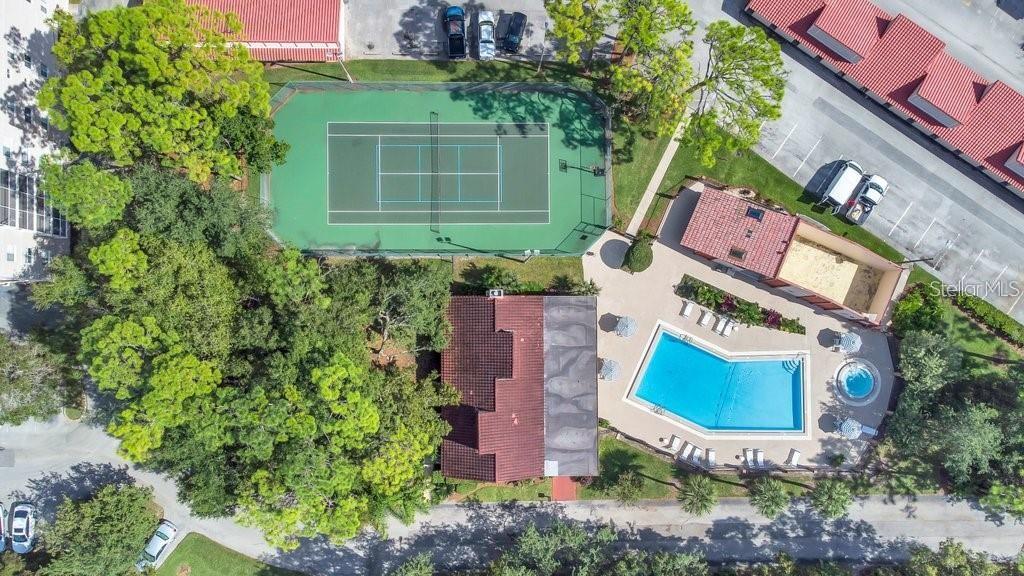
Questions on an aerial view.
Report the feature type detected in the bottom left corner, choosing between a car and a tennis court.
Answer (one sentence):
Visible in the bottom left corner is a car.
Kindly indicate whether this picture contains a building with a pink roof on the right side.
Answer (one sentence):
Yes, a building with a pink roof appears on the right side.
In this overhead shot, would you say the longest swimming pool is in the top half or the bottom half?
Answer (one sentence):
It is in the bottom half that the longest swimming pool appears.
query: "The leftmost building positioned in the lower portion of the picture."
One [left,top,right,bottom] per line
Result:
[441,288,599,484]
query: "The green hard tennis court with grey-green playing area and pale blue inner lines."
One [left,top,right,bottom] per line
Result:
[271,92,605,253]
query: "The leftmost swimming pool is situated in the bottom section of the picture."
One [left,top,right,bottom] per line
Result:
[624,320,812,439]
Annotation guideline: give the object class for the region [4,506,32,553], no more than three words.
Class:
car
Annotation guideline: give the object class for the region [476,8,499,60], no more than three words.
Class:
truck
